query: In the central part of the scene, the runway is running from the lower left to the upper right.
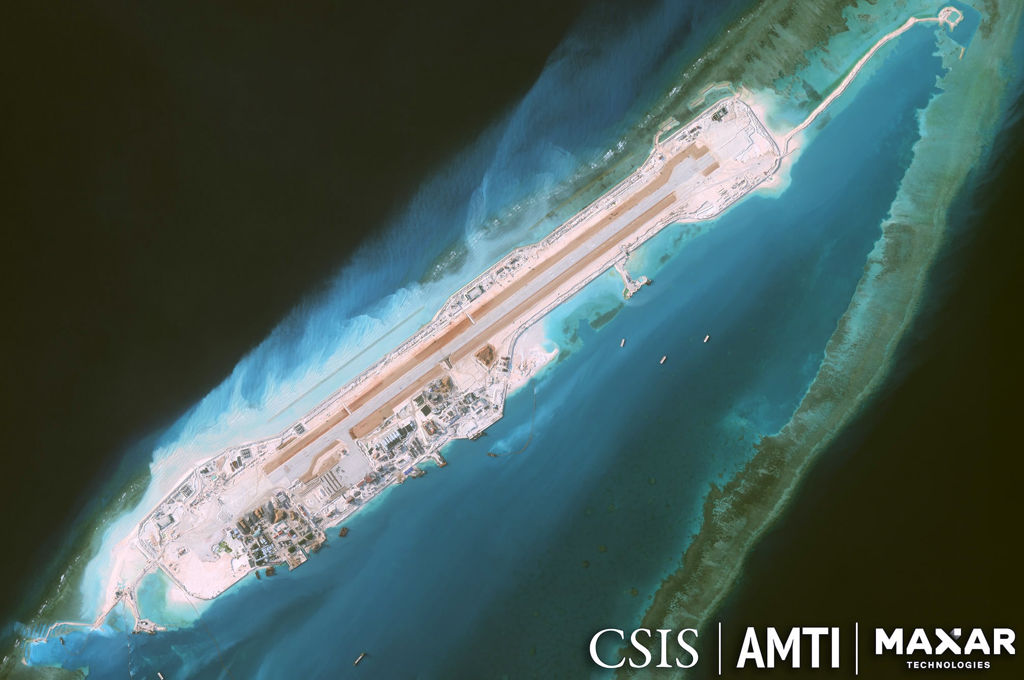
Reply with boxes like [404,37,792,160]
[266,179,677,487]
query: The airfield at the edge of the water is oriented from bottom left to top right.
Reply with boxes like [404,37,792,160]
[262,142,720,499]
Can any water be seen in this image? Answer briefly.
Yes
